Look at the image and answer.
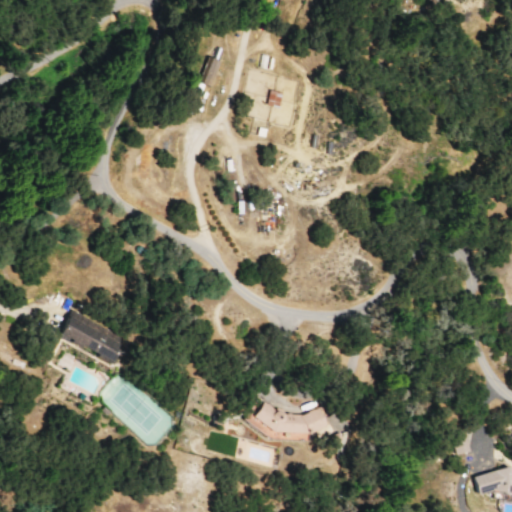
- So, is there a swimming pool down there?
Yes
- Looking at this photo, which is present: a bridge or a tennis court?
tennis court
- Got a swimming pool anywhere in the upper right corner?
No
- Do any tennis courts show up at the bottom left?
Yes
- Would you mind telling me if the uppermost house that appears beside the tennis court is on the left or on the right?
left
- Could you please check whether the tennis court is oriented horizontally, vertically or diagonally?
diagonally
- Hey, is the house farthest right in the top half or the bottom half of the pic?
bottom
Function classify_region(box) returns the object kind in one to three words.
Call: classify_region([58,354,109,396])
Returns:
swimming pool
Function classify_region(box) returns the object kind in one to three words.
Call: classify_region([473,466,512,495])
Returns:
house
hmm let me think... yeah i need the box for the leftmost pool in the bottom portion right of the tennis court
[235,438,274,464]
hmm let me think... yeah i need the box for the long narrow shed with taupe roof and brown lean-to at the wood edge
[202,58,220,86]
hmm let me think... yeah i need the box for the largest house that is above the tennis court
[62,311,121,362]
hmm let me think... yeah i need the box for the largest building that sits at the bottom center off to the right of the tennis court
[250,404,334,441]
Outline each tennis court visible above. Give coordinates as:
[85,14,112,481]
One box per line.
[100,378,173,446]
